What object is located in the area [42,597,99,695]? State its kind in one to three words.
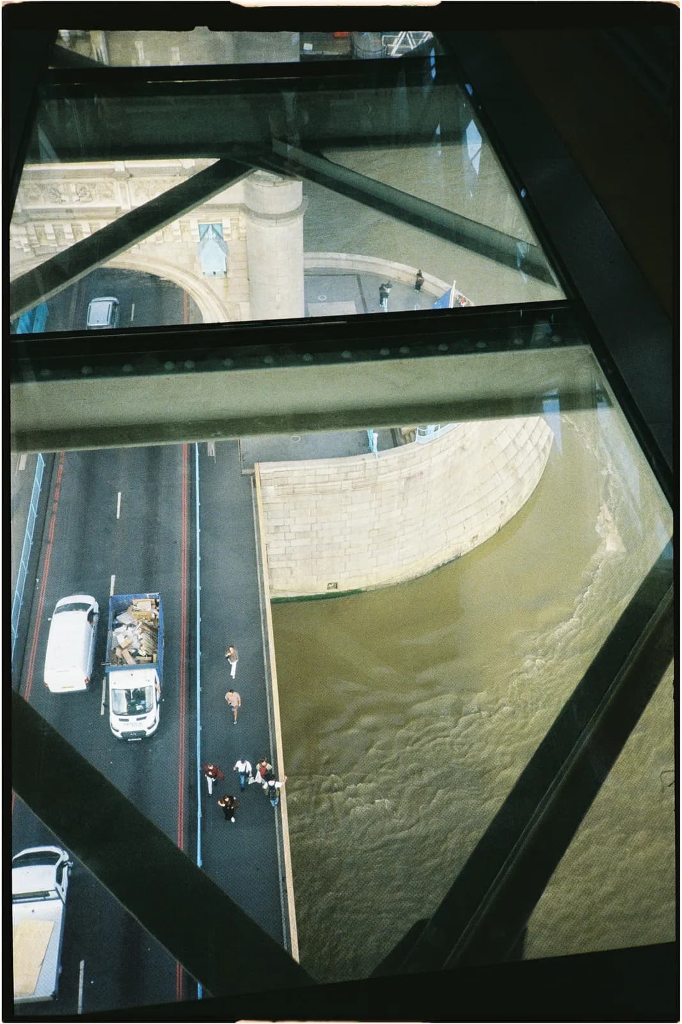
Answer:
van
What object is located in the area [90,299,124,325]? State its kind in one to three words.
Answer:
car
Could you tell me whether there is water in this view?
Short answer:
Yes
